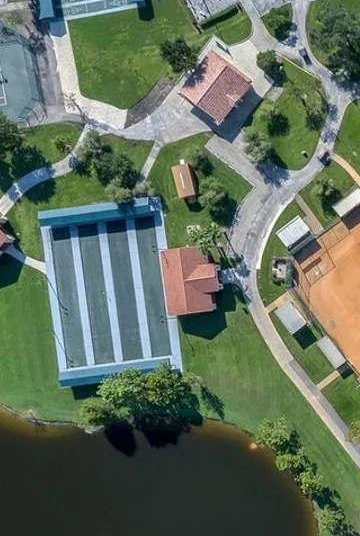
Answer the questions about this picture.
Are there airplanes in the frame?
No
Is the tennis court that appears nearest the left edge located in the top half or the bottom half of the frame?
top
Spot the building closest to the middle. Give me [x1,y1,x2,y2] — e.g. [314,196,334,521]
[161,246,231,317]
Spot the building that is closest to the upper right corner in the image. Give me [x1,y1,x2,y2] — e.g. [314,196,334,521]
[180,52,252,124]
